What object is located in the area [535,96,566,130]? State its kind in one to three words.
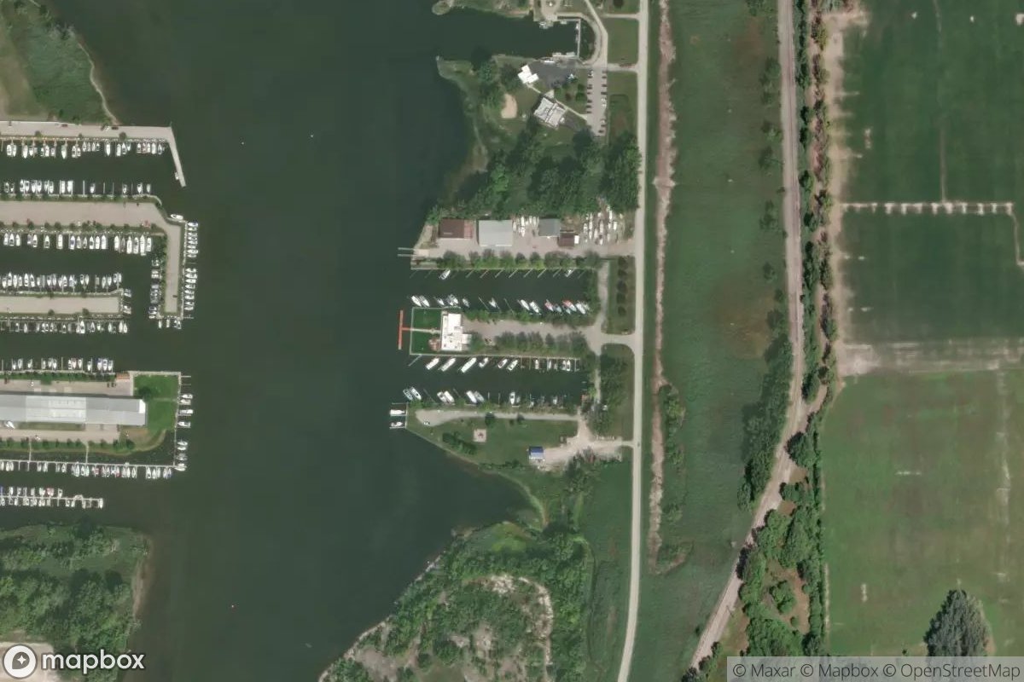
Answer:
building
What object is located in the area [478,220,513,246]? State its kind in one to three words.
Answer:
building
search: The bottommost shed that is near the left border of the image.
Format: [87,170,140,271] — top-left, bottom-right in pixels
[0,394,147,429]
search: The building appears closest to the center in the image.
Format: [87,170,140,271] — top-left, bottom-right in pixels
[441,313,471,351]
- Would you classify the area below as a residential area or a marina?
marina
